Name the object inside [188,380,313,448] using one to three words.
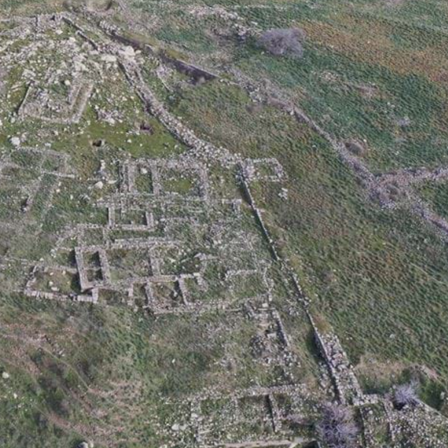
house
